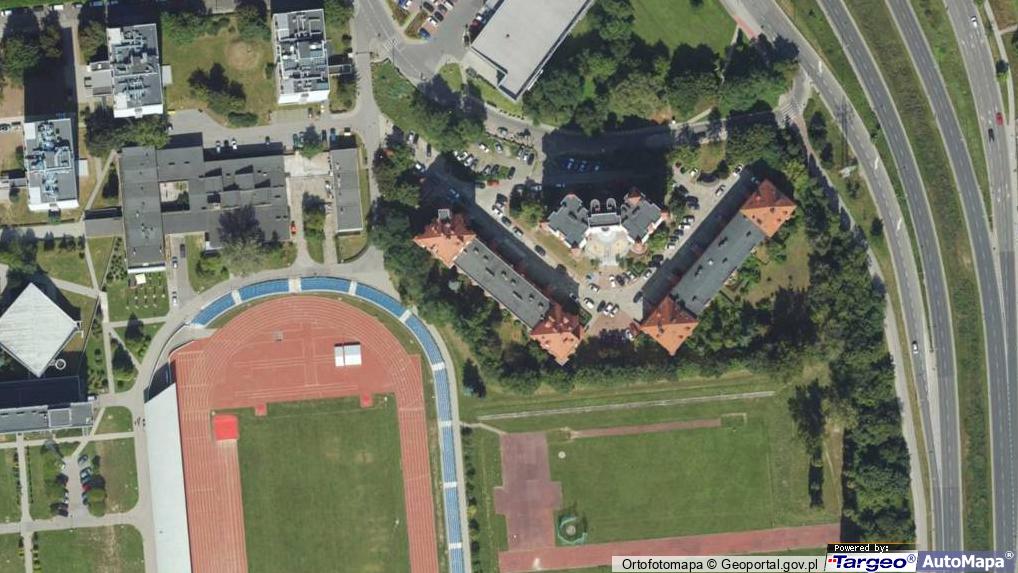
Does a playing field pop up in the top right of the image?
No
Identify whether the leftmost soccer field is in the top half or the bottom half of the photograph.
bottom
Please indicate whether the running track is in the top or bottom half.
bottom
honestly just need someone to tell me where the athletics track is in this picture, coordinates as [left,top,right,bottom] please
[169,295,442,573]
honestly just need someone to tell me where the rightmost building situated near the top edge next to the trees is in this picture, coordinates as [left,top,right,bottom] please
[466,0,595,103]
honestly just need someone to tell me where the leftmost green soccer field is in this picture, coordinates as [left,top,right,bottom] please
[211,393,409,573]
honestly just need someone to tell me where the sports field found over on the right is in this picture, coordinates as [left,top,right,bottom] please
[548,417,774,546]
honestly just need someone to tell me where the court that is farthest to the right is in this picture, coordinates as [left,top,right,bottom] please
[494,433,563,551]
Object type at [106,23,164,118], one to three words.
building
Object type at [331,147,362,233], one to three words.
building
